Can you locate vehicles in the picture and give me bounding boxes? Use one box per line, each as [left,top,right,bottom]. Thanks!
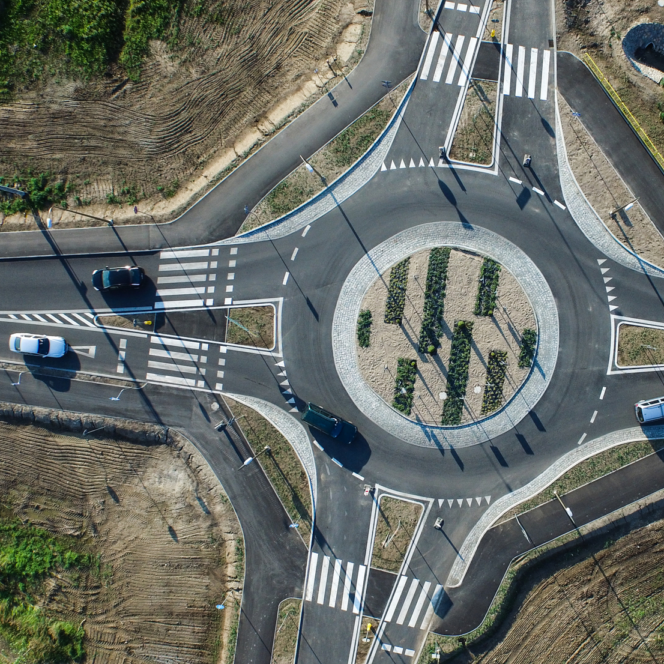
[7,331,71,360]
[633,396,664,423]
[90,265,146,293]
[301,401,363,443]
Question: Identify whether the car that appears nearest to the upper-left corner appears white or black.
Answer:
black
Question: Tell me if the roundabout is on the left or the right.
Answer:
right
